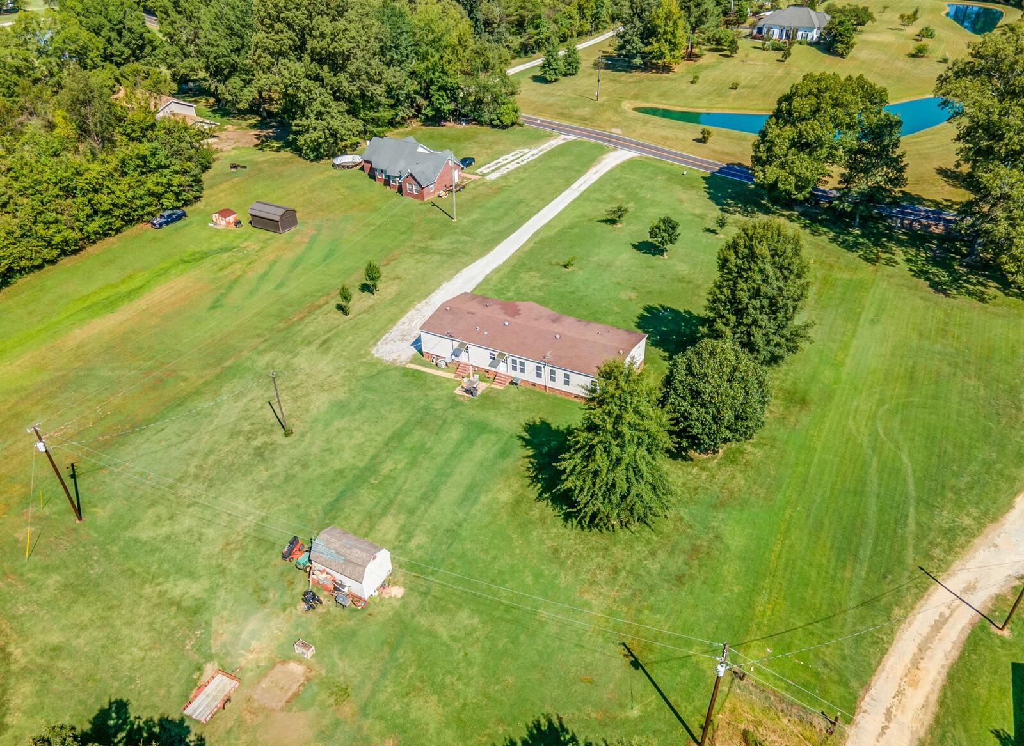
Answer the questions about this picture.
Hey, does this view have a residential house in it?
Yes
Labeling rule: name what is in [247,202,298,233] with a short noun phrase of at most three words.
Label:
shed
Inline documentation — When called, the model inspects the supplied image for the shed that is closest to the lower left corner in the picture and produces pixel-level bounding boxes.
[314,526,392,598]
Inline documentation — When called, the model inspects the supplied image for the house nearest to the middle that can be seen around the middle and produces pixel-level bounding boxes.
[418,291,651,405]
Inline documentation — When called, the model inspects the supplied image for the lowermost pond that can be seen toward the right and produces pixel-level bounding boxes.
[634,99,960,137]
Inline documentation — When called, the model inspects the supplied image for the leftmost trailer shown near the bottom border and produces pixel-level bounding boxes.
[184,666,243,725]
